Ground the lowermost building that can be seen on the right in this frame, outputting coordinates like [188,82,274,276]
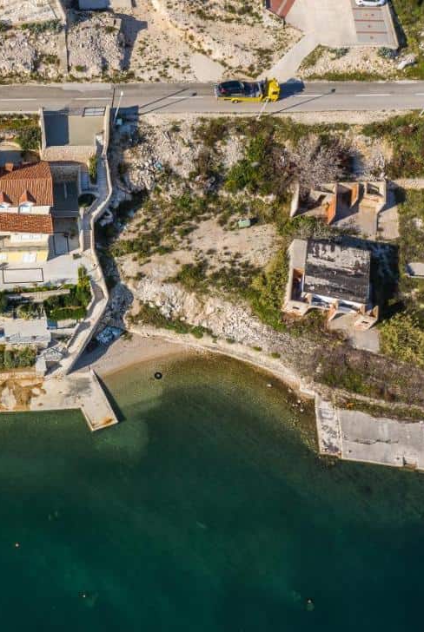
[279,240,379,333]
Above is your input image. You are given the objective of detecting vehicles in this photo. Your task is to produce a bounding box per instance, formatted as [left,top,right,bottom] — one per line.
[356,0,387,8]
[220,81,253,98]
[216,81,279,103]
